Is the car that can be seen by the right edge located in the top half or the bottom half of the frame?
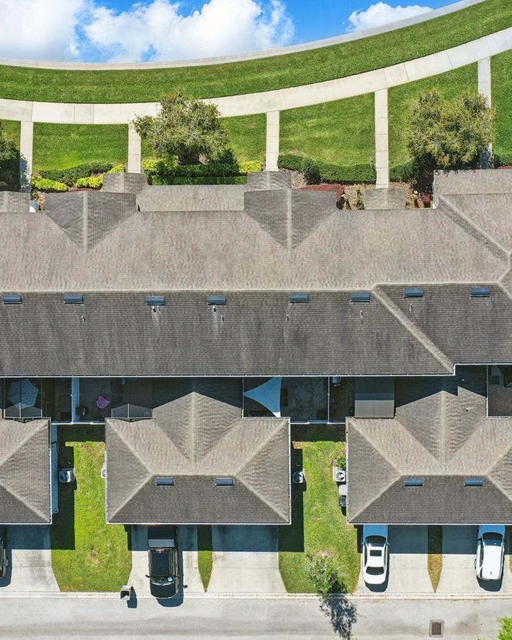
bottom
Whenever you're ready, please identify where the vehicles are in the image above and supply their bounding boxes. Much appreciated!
[359,526,392,586]
[146,526,181,594]
[474,526,509,580]
[0,526,10,580]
